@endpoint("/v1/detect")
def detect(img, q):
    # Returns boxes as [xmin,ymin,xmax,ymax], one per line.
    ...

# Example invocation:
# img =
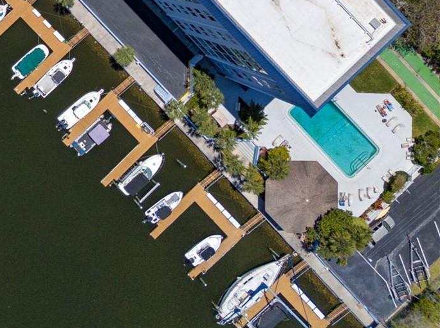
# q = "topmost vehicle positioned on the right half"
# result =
[368,213,399,246]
